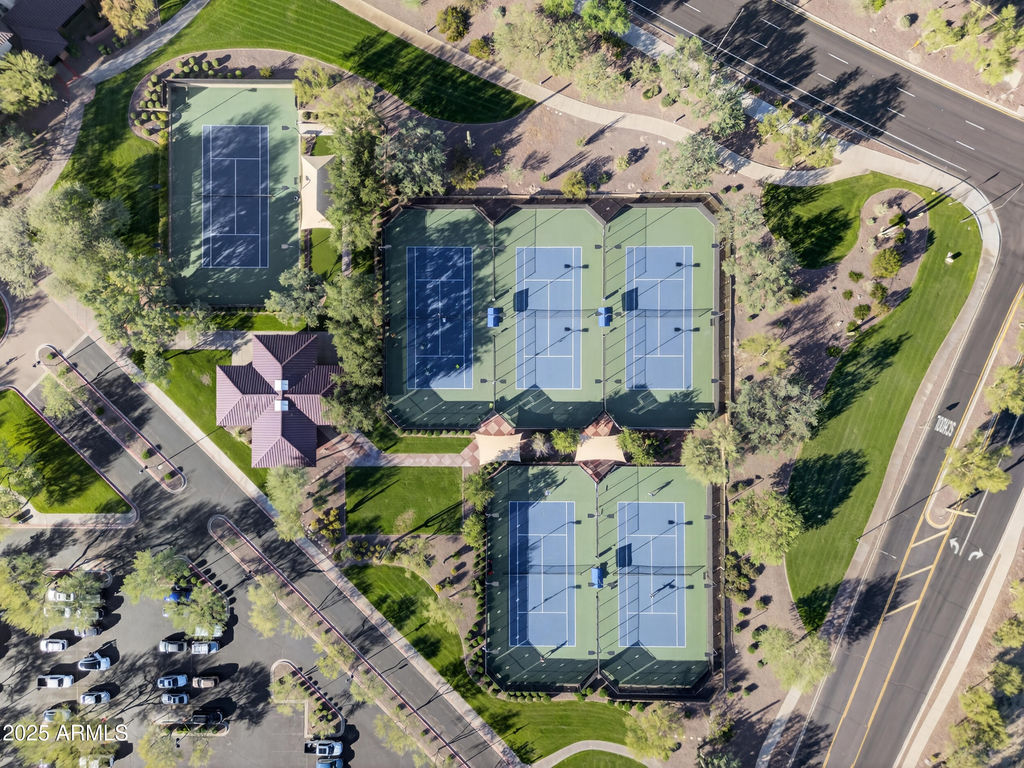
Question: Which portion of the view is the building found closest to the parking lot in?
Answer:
left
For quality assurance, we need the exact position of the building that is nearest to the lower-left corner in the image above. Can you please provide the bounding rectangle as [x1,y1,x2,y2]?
[216,334,343,468]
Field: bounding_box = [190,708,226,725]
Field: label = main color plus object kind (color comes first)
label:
black vehicle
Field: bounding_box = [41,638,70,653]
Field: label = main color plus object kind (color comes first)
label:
white car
